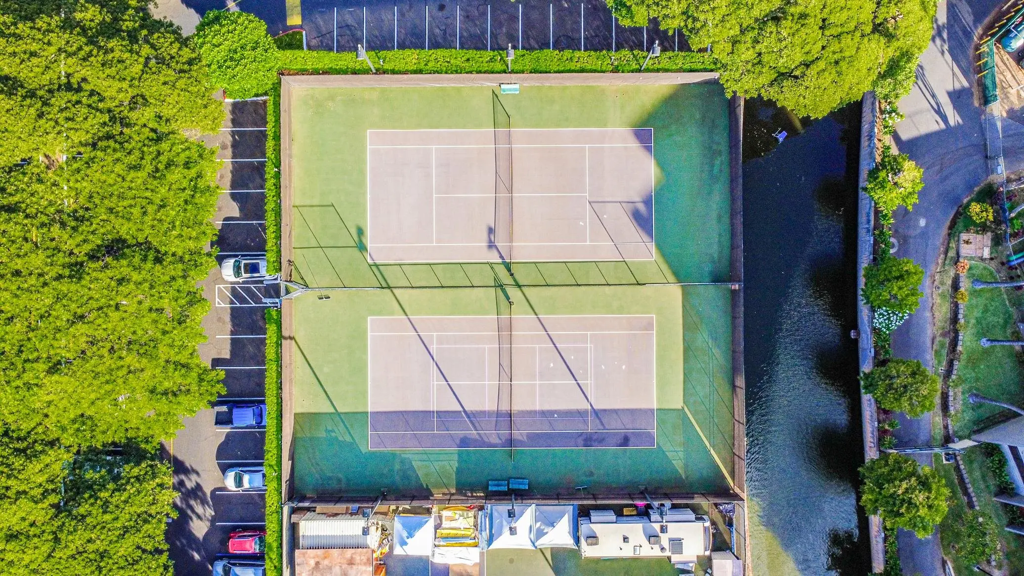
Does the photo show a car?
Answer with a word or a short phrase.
Yes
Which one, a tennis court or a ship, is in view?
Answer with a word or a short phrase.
tennis court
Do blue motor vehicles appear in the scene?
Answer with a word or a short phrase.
Yes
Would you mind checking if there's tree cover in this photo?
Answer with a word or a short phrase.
Yes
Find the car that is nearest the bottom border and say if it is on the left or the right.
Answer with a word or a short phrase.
left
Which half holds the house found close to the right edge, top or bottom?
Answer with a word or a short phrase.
bottom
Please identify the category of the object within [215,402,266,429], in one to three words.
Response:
vehicle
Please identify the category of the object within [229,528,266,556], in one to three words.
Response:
car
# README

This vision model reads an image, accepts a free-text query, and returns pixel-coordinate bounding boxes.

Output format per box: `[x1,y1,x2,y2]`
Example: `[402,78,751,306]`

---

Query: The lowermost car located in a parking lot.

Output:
[217,556,267,576]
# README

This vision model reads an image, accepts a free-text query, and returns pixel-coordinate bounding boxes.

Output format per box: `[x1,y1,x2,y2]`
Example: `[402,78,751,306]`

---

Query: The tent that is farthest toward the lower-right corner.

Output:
[534,503,578,548]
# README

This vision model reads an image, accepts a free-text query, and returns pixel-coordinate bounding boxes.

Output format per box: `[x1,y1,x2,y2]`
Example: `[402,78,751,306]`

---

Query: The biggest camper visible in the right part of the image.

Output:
[577,507,707,563]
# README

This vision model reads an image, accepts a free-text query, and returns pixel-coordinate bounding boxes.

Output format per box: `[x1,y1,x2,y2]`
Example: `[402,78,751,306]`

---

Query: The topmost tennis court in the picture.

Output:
[293,84,731,285]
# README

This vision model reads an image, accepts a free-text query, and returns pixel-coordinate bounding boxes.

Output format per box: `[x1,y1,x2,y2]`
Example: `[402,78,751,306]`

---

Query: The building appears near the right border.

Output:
[938,418,1024,506]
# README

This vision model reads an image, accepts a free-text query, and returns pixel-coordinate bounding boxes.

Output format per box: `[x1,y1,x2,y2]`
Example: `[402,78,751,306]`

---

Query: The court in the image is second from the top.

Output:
[293,285,732,494]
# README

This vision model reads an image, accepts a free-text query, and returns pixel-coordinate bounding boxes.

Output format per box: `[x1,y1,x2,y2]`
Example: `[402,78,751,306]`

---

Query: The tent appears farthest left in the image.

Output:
[394,509,436,554]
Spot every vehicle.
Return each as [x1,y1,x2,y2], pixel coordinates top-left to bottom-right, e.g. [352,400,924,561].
[222,255,281,283]
[215,402,266,429]
[217,556,267,576]
[577,507,707,563]
[229,528,266,556]
[227,465,269,492]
